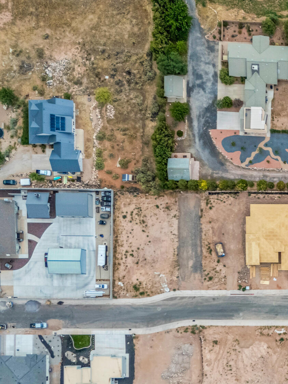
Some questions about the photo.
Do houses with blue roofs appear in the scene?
Yes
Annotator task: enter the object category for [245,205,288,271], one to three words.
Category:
house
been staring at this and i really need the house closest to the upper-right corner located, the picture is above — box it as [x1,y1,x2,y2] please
[226,34,288,137]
